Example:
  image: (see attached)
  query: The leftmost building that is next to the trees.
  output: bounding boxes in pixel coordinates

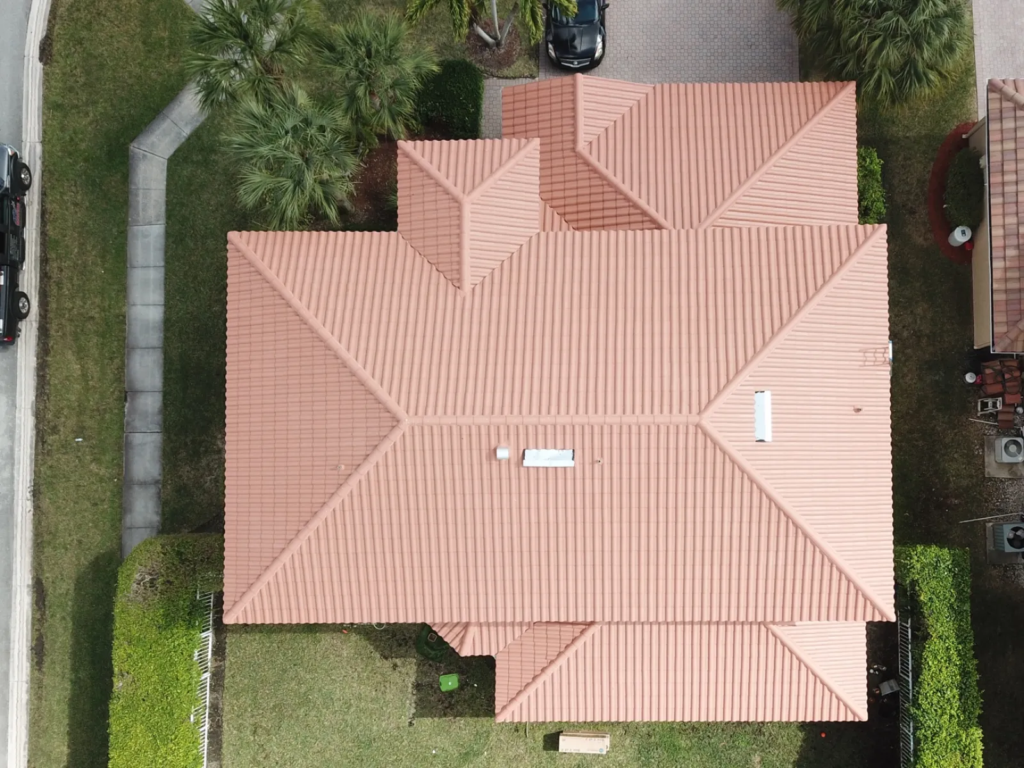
[217,72,902,726]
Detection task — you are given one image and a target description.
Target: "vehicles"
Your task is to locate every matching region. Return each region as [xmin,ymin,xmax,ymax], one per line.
[0,141,32,352]
[546,0,611,68]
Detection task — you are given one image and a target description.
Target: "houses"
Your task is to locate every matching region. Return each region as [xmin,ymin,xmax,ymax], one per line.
[217,72,902,726]
[967,75,1024,358]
